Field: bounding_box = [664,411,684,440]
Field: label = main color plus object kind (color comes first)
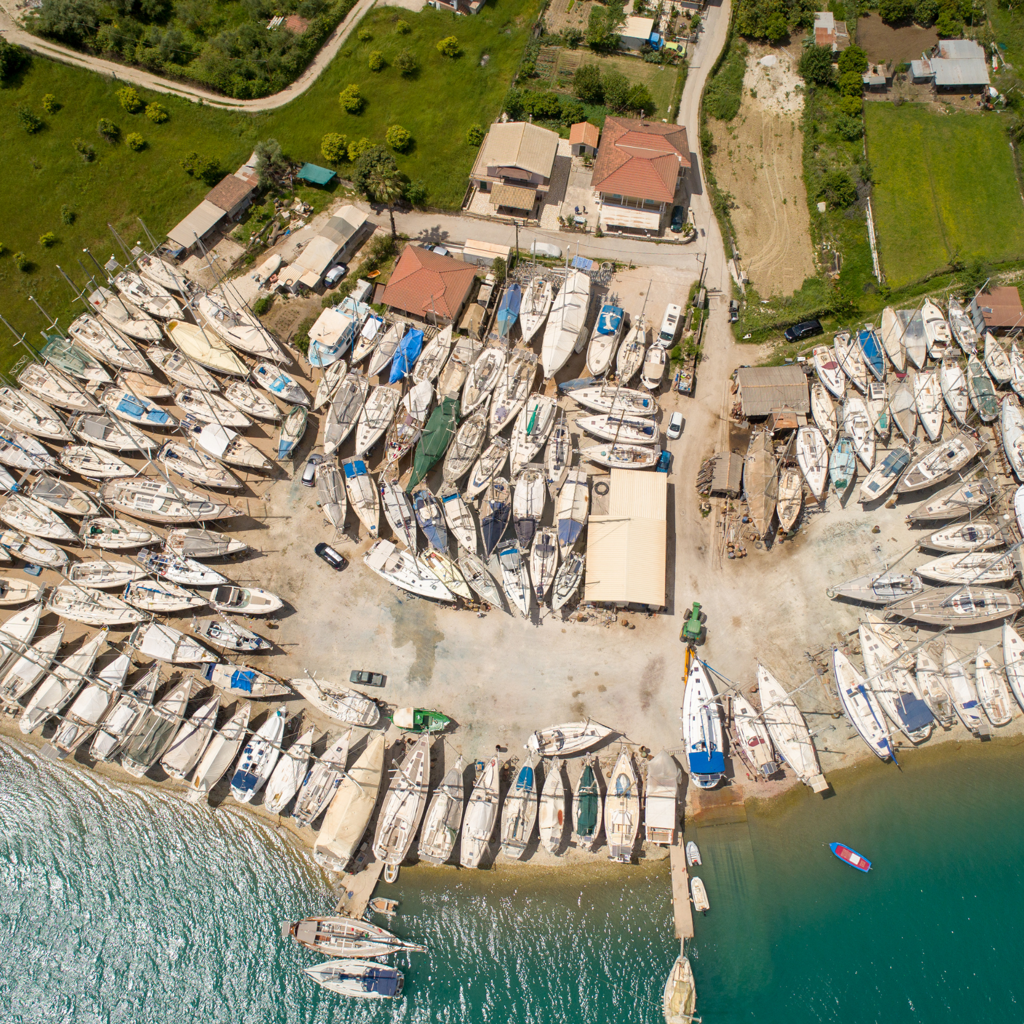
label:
white car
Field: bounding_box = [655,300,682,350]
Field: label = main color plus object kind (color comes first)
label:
white vehicle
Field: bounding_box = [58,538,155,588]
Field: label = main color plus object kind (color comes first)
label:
white boat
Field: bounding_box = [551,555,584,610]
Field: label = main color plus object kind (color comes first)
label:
white boat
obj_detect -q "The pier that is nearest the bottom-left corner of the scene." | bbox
[335,858,384,920]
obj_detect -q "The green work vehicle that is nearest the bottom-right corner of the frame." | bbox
[678,602,706,649]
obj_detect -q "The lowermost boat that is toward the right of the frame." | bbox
[664,951,697,1024]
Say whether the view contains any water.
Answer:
Yes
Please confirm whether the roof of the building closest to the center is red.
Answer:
No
